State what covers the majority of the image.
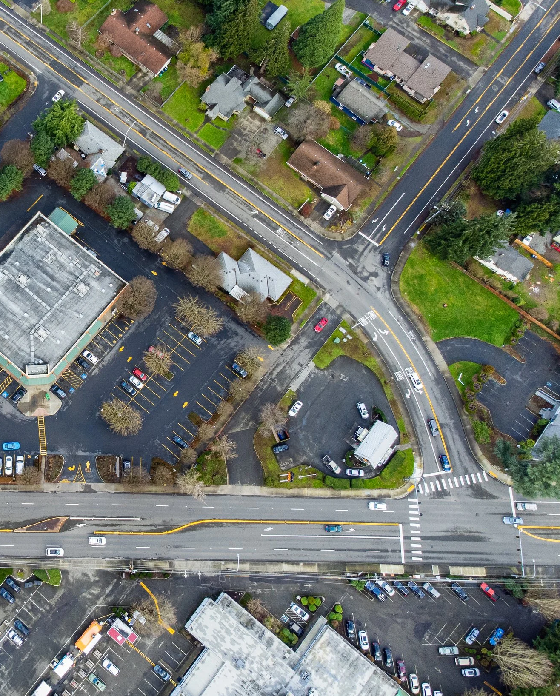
paved ground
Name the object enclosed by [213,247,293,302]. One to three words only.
building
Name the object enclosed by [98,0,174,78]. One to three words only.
house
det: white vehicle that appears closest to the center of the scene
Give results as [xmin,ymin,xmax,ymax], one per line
[288,400,302,417]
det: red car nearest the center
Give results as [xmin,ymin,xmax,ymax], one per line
[314,318,327,333]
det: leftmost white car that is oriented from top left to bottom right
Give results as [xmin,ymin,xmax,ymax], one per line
[7,628,24,648]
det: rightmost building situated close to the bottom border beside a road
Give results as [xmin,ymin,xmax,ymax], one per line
[164,591,409,696]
